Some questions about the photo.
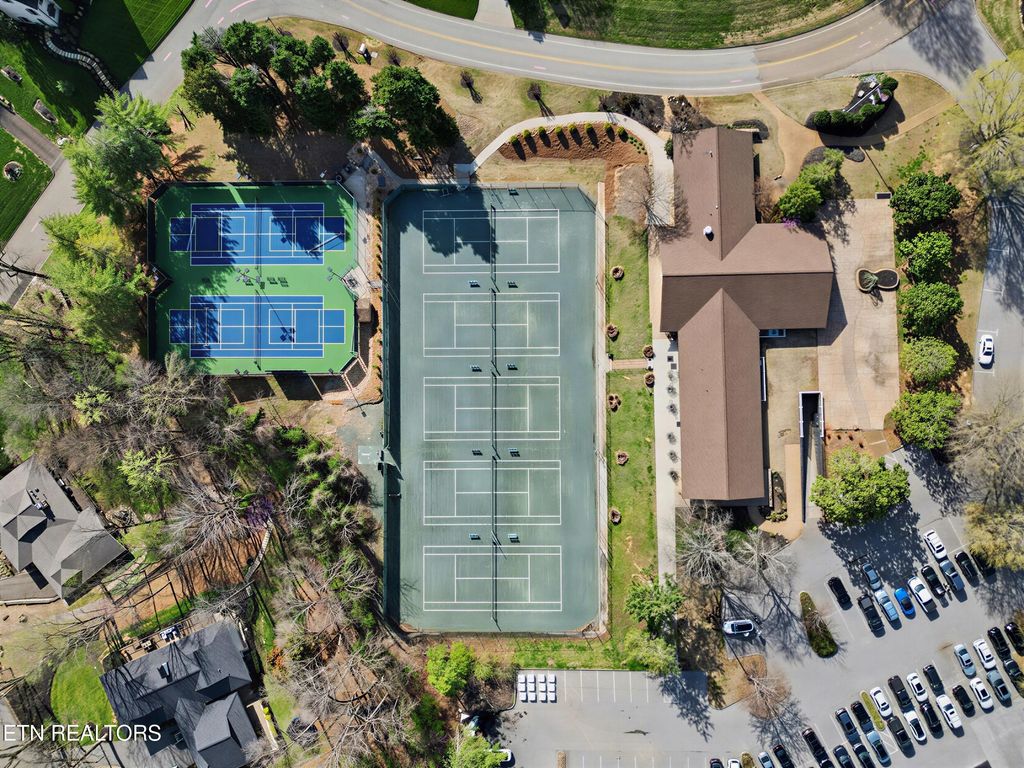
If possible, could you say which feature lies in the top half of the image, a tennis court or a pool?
tennis court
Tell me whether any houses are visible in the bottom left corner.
Yes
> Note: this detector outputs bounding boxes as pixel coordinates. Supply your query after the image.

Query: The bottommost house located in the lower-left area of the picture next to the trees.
[99,613,264,768]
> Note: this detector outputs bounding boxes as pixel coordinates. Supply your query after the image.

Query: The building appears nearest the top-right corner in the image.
[660,126,834,500]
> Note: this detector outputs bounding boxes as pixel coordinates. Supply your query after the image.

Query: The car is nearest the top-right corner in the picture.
[977,336,993,365]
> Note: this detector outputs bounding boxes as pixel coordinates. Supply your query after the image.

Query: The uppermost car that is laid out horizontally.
[724,620,753,634]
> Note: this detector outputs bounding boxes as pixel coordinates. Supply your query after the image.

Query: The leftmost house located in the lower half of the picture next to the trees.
[0,455,133,600]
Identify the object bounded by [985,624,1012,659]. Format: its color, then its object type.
black car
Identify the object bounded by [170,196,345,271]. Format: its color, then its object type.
blue tennis court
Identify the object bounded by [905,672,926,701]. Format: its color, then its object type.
white car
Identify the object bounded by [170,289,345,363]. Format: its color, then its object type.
blue tennis court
